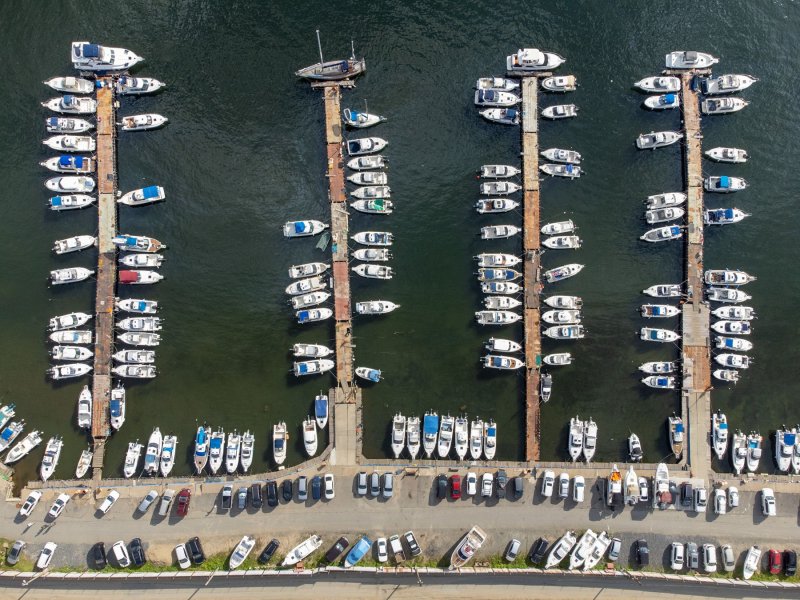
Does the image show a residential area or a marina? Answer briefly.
marina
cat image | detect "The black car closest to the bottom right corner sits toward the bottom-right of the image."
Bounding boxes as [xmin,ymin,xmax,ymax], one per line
[783,548,798,577]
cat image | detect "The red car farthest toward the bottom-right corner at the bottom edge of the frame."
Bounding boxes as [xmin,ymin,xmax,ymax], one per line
[768,548,781,573]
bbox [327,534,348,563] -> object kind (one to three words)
car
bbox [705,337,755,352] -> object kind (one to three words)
boat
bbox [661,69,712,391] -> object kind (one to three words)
pier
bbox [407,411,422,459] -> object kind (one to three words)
boat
